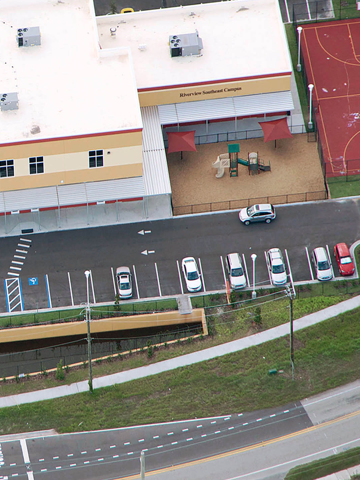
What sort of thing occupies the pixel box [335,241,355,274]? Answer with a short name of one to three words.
car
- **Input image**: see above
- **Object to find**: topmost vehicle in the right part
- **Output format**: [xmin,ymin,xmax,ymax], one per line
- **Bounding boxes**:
[239,202,278,225]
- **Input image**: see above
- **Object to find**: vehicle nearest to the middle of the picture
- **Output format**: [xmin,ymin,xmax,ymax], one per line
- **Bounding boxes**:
[182,256,201,290]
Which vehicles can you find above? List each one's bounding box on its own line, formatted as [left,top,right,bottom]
[335,241,355,274]
[268,245,289,283]
[182,256,201,290]
[312,242,334,281]
[239,202,278,225]
[115,263,134,298]
[227,249,248,287]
